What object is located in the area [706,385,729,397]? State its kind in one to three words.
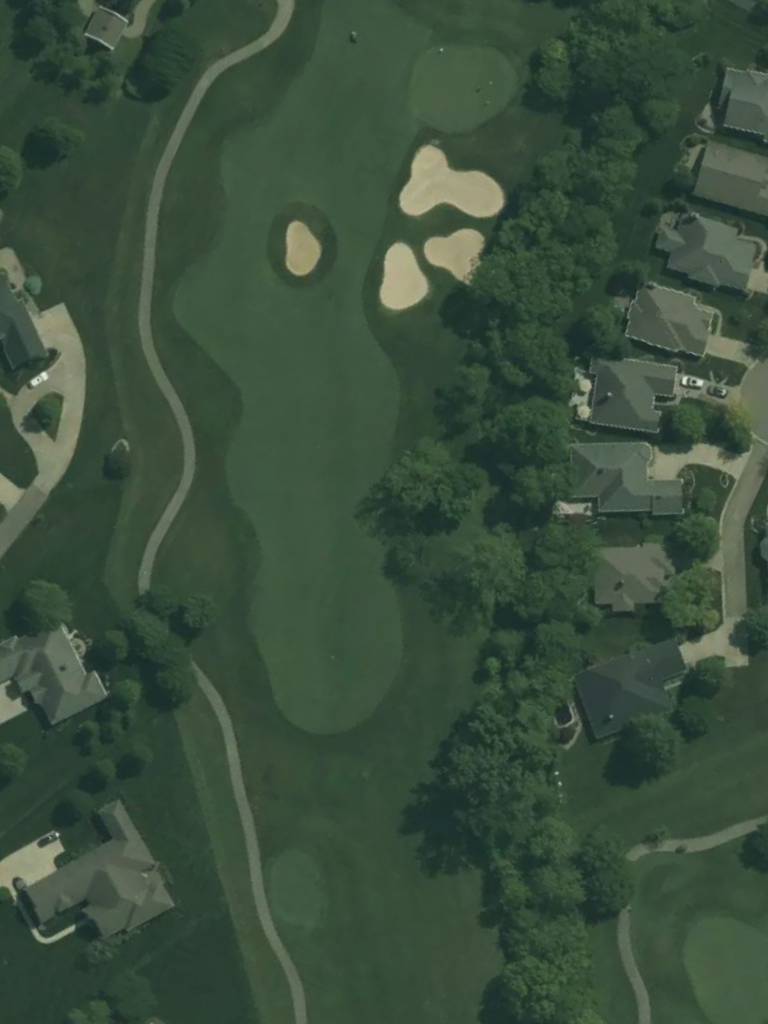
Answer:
vehicle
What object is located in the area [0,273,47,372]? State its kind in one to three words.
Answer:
house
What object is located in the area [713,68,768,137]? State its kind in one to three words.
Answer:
house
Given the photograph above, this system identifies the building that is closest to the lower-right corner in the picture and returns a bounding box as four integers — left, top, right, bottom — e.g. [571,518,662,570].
[575,639,688,739]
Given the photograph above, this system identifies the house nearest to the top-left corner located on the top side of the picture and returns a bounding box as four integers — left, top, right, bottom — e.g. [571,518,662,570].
[85,6,128,50]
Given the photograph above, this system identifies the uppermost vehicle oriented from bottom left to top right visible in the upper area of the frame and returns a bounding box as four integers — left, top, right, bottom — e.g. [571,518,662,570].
[28,372,49,389]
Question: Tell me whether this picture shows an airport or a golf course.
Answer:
golf course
